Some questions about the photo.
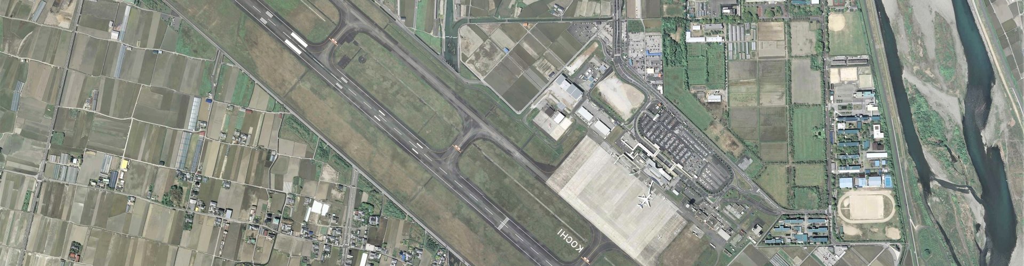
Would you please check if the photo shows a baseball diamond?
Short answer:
Yes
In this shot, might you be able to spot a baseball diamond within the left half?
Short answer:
No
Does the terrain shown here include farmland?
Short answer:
Yes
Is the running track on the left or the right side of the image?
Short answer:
right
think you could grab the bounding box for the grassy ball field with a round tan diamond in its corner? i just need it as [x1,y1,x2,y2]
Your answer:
[828,11,868,54]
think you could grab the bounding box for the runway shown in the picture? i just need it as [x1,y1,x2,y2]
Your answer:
[236,0,563,266]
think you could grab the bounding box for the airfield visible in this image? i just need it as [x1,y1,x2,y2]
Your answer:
[166,0,740,266]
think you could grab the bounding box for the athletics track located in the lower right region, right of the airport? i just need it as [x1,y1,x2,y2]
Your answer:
[831,189,905,241]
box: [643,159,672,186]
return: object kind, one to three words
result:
building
